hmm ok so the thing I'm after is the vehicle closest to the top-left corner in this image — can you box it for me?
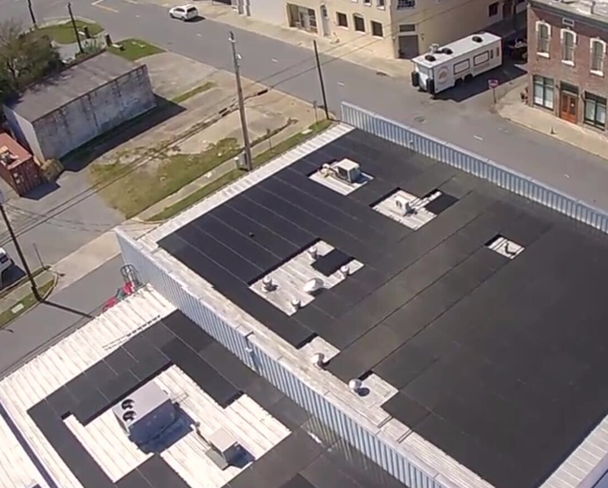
[60,46,84,62]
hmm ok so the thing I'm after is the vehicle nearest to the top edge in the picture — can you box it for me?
[170,8,198,21]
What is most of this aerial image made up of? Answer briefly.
buildings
